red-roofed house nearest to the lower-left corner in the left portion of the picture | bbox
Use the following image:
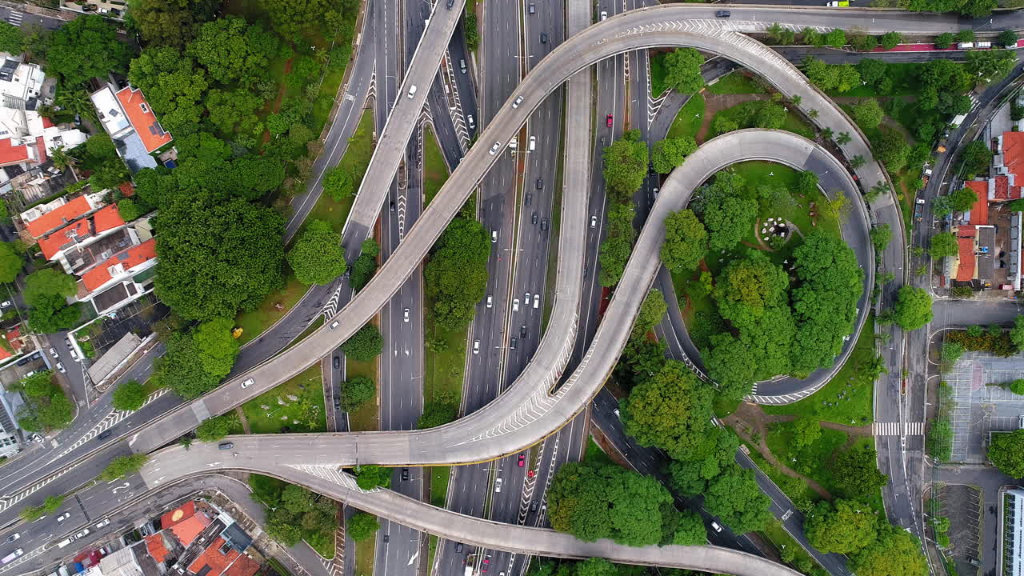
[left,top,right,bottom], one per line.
[74,546,107,567]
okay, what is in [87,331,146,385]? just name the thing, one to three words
shed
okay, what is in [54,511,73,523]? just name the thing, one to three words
vehicle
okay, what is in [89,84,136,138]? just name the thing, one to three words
house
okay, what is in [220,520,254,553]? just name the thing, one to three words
house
